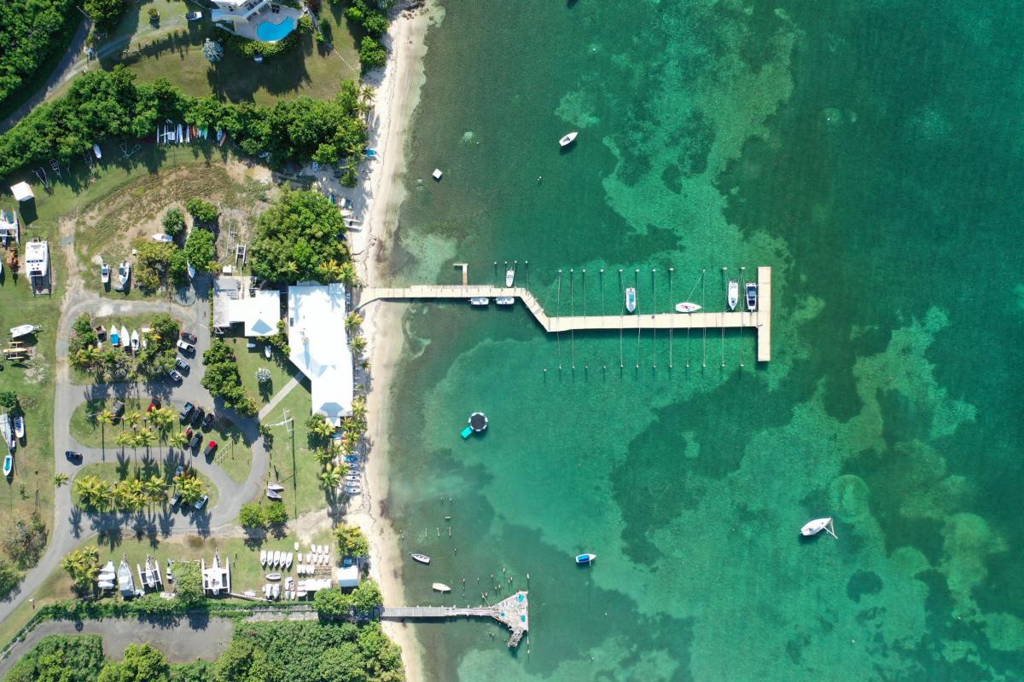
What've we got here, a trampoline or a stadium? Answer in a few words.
trampoline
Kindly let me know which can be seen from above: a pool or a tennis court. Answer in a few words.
pool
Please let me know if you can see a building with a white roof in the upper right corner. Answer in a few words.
No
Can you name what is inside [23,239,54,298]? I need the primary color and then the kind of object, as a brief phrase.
white boat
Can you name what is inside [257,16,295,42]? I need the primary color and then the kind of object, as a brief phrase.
blue swimming pool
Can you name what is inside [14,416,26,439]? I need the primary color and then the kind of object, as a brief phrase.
white boat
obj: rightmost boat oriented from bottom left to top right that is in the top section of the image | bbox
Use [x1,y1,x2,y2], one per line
[560,133,577,146]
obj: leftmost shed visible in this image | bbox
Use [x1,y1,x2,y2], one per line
[11,182,40,202]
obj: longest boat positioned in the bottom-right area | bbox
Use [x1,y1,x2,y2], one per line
[799,519,832,538]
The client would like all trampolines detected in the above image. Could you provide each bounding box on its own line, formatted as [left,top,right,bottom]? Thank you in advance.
[461,412,488,437]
